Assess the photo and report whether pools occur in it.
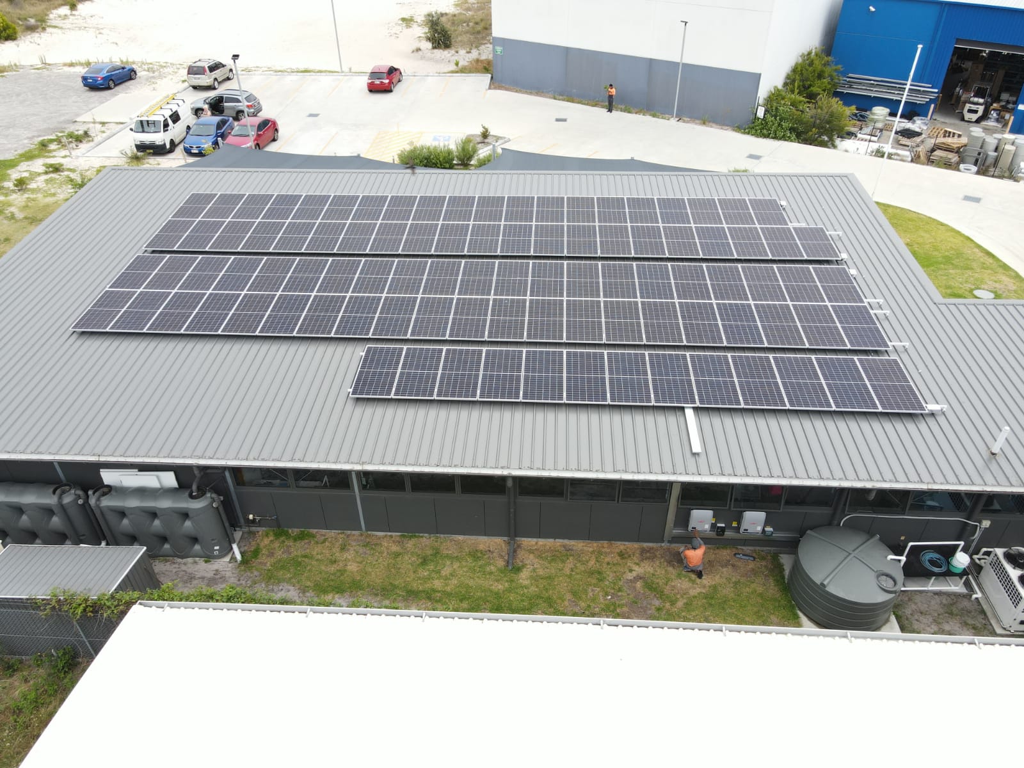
No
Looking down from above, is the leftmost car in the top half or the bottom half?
top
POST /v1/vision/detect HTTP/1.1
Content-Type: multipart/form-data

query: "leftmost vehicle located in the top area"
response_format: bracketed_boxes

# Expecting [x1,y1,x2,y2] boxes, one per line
[76,61,137,89]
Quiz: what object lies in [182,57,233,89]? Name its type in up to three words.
car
